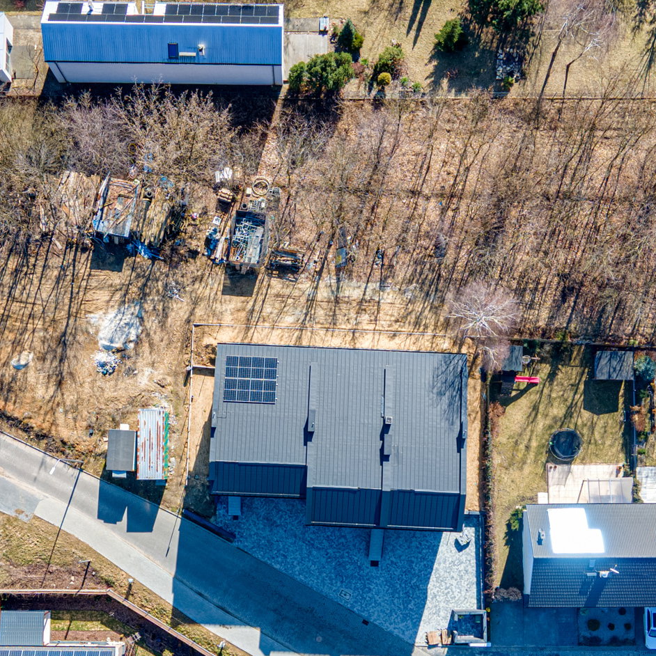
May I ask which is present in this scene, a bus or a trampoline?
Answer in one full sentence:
There is a trampoline in the scene.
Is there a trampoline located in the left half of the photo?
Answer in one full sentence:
No, I see no trampoline in the left half of the photo.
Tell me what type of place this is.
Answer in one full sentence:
What you see here is a residential area.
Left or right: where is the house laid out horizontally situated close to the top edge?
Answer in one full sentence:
The house laid out horizontally situated close to the top edge is on the left side of the image.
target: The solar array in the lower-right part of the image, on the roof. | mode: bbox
[545,509,610,553]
